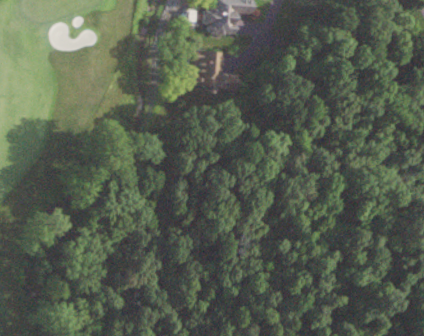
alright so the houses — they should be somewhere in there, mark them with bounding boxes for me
[200,0,256,38]
[198,48,238,90]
